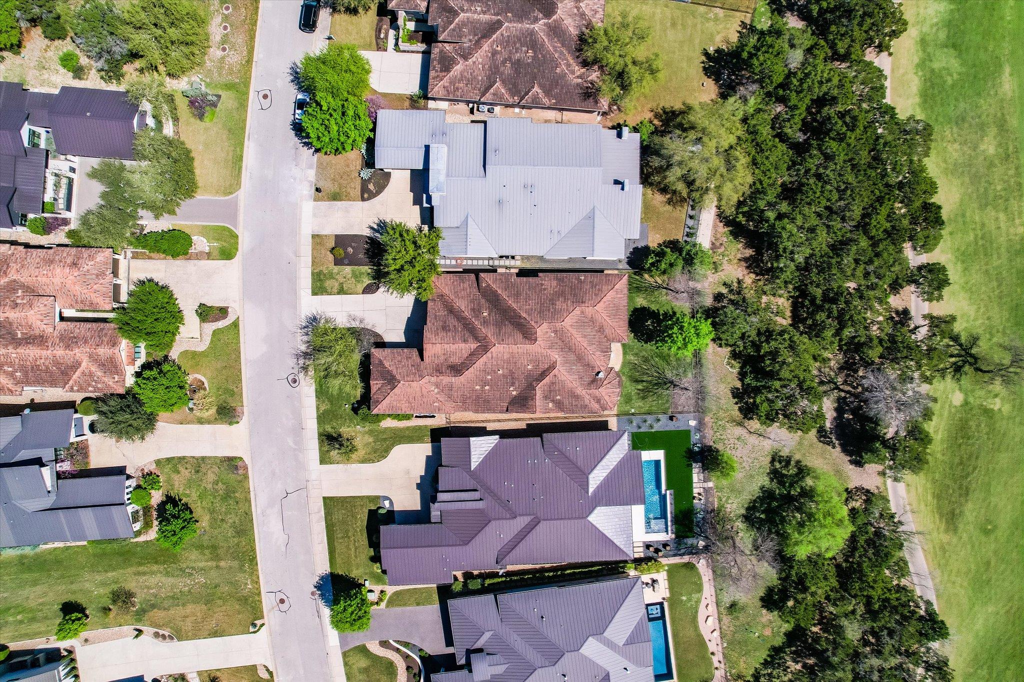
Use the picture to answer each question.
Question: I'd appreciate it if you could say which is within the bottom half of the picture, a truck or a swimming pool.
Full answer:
What appears within the bottom half of the picture is a swimming pool.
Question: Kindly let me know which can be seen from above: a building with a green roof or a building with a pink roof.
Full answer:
The one in the frame is a building with a pink roof.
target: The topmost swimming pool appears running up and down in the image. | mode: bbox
[633,451,676,541]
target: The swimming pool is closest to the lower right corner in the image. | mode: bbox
[645,602,677,682]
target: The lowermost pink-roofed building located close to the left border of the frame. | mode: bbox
[0,243,146,396]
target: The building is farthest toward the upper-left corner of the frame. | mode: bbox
[0,82,152,229]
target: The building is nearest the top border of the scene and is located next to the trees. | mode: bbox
[387,0,608,114]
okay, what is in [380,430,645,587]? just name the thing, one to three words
house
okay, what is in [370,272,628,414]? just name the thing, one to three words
house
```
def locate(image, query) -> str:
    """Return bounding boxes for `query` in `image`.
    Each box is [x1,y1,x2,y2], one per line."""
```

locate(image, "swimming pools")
[645,602,677,682]
[633,451,676,541]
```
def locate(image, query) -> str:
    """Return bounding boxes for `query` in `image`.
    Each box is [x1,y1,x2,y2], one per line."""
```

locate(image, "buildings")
[375,109,642,260]
[0,408,143,547]
[387,0,608,114]
[370,272,628,414]
[0,243,146,396]
[431,573,655,682]
[0,652,80,682]
[0,82,152,229]
[380,430,645,587]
